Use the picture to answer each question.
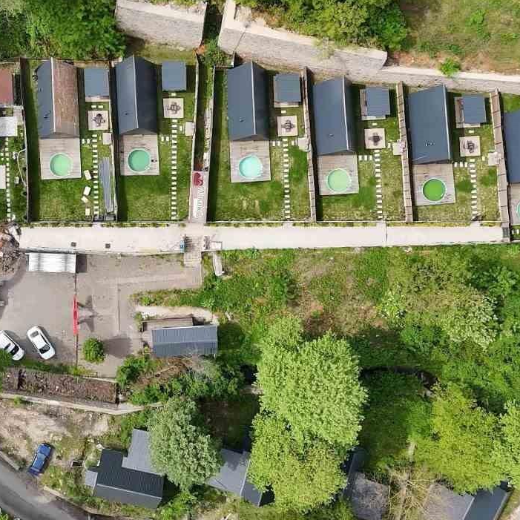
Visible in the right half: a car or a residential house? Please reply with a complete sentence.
Visible in the right half is a residential house.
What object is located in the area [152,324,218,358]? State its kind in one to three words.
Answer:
building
